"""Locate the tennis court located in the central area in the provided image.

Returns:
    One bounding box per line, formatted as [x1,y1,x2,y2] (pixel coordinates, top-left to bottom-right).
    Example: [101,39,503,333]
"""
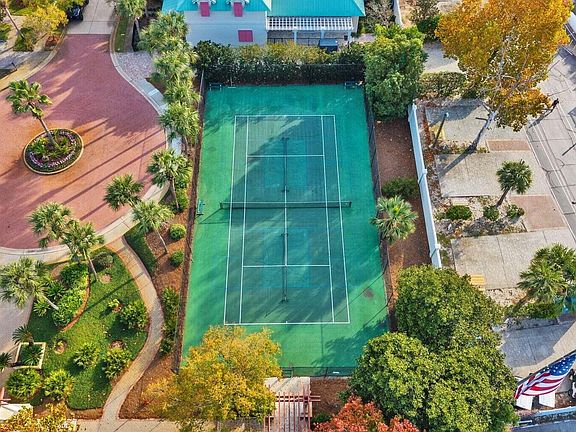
[181,84,393,374]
